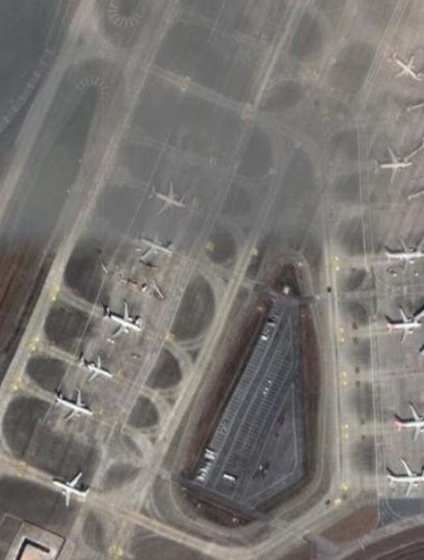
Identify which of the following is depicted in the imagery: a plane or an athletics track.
plane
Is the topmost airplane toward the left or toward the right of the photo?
right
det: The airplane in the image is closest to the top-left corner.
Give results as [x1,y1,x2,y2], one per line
[148,181,185,214]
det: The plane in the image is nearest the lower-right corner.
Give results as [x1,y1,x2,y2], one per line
[388,458,424,495]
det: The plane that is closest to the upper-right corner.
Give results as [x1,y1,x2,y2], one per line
[391,52,419,80]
